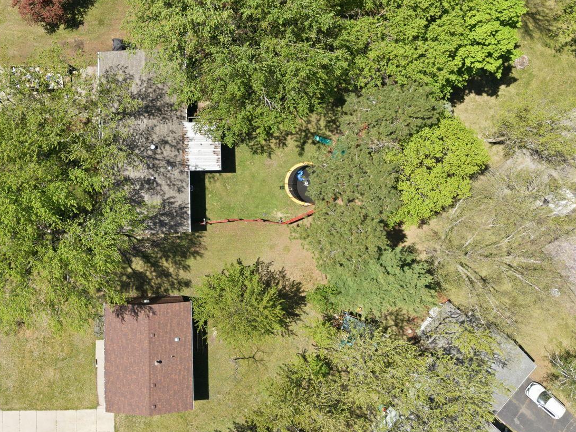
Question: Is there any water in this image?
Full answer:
No, there's no water in this view.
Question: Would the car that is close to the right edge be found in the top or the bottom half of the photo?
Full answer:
Seen from above, the car that is close to the right edge lies in the bottom half of the view.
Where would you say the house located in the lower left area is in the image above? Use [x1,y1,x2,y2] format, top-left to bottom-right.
[102,298,195,416]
